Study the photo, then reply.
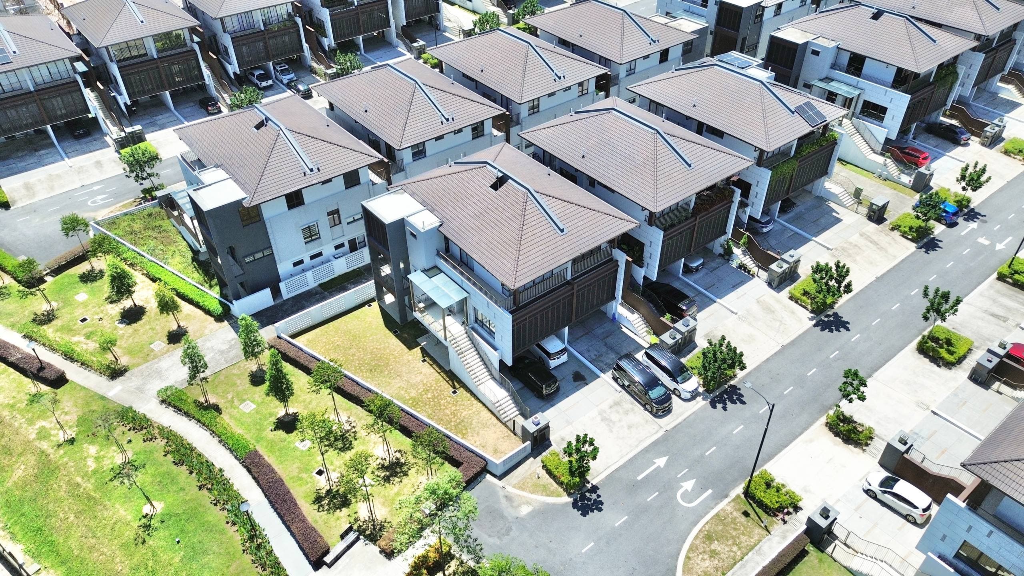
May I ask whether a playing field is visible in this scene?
No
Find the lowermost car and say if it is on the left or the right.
right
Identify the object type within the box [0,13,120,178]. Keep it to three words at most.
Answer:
house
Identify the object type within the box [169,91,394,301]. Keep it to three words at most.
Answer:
house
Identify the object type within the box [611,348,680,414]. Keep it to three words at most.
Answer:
car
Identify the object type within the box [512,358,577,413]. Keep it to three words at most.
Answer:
car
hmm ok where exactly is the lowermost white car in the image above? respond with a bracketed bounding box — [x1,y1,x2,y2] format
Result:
[859,468,941,528]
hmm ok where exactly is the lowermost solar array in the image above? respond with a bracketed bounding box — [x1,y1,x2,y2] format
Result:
[785,86,826,117]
